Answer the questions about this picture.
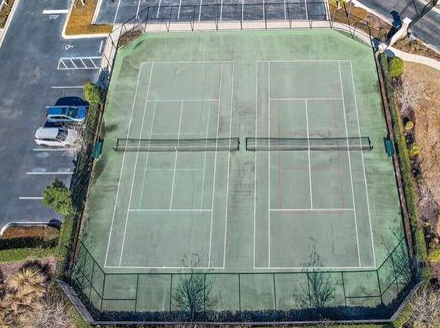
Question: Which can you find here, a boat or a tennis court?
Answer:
tennis court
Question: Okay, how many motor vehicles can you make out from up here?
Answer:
two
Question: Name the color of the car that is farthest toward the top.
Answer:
blue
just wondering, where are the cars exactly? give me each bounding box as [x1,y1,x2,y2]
[31,124,79,146]
[44,102,84,122]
